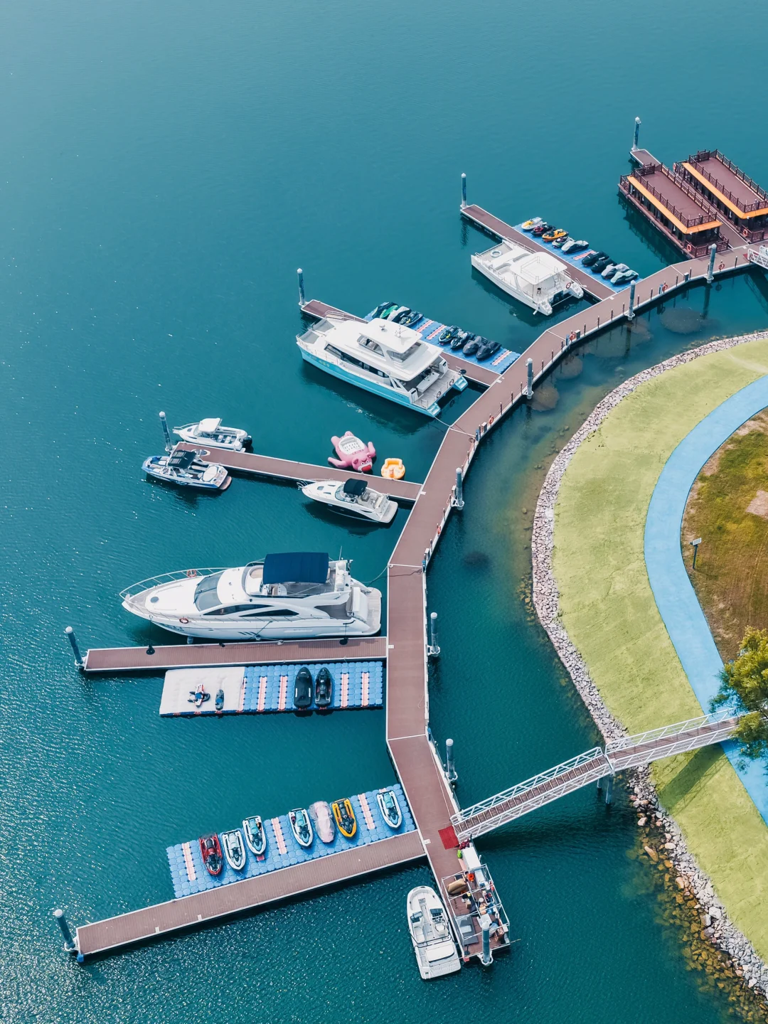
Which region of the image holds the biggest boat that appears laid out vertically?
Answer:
bottom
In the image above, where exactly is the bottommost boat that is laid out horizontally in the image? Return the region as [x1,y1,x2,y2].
[115,553,382,639]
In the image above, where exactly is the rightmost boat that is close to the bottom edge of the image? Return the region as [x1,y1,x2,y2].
[412,884,461,979]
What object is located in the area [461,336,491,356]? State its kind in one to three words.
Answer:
boat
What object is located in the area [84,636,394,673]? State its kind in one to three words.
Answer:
pier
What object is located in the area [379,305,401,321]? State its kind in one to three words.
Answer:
boat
